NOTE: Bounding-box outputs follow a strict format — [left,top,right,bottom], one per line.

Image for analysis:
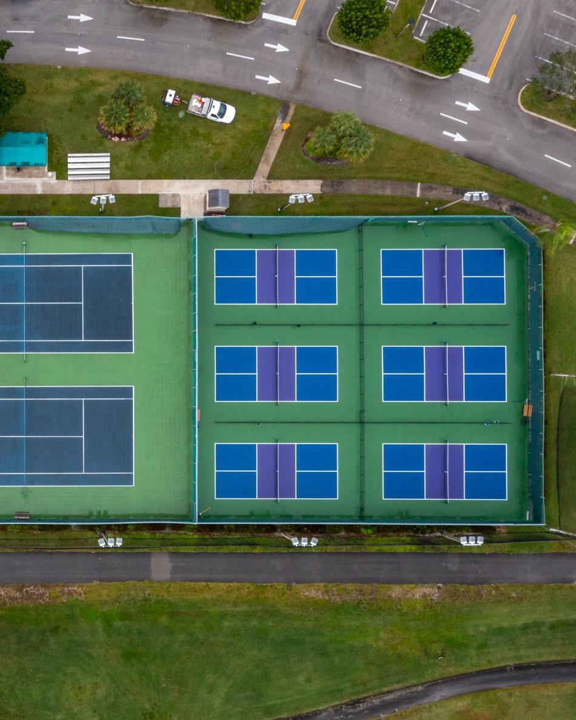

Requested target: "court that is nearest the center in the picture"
[215,346,338,401]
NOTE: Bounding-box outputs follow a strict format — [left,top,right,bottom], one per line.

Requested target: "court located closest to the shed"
[215,249,338,305]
